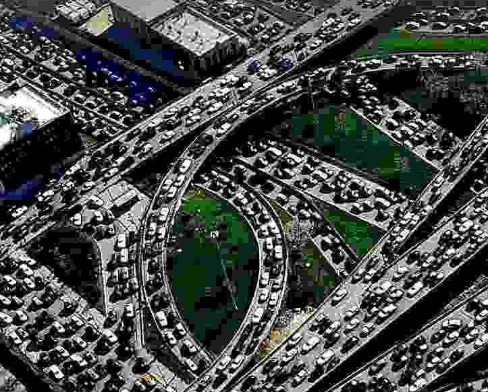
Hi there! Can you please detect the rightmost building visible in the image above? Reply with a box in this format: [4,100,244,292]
[155,5,243,83]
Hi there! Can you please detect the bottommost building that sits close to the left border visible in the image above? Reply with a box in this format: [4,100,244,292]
[0,86,82,197]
